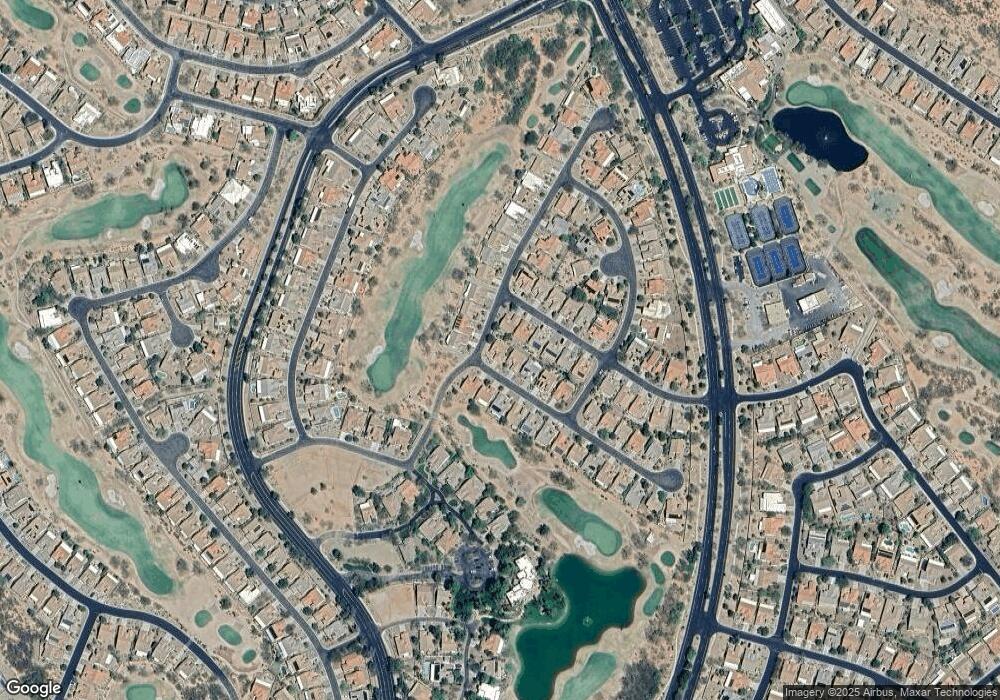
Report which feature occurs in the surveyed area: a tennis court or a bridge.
tennis court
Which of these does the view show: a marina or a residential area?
residential area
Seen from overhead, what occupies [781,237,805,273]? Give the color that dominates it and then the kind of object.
blue tennis court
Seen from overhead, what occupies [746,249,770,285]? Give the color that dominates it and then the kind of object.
blue tennis court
